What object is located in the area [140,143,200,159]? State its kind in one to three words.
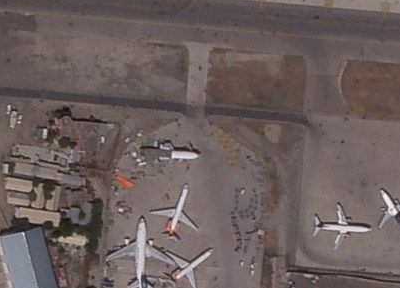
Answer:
airplane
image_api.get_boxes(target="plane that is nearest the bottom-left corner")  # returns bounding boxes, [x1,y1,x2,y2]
[107,216,176,288]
